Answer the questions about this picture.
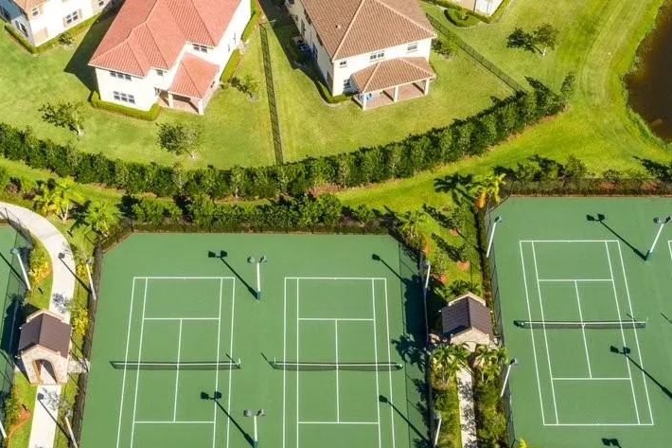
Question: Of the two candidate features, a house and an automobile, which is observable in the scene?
house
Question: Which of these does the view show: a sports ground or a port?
sports ground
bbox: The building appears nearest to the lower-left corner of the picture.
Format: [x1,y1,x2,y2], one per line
[15,307,79,382]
